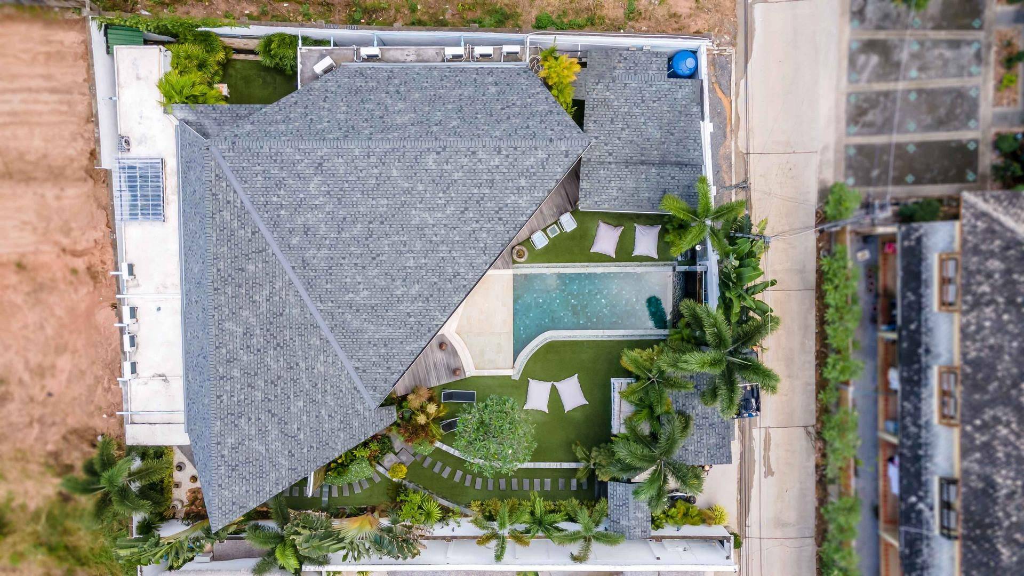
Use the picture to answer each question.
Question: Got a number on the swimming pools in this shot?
1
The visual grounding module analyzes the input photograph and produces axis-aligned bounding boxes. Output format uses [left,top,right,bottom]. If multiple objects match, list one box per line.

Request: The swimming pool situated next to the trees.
[512,261,676,381]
